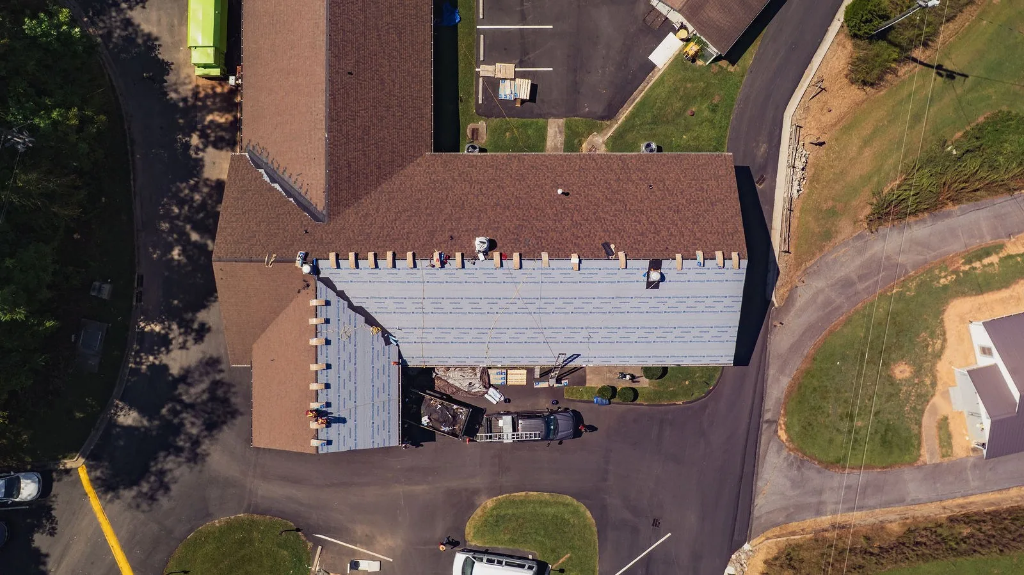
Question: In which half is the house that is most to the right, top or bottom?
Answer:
bottom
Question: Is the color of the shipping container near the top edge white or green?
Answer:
green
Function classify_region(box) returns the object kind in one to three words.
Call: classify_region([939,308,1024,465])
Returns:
house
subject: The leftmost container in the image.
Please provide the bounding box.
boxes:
[188,0,232,79]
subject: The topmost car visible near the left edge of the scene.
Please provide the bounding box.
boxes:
[0,471,43,506]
